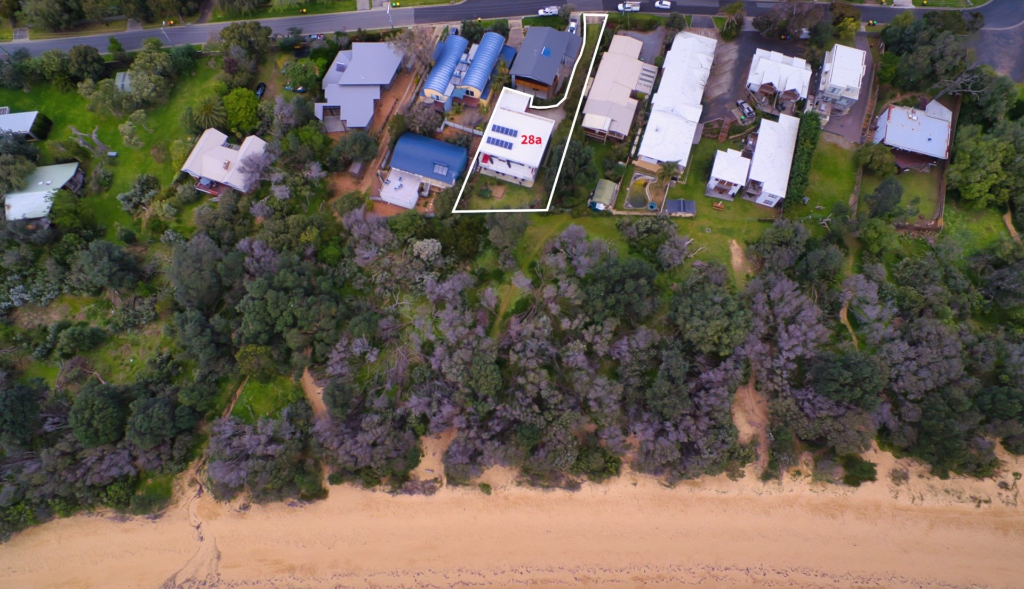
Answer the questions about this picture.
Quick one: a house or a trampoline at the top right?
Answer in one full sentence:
The one visible at the top right is a house.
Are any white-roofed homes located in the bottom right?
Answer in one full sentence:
No, no white-roofed home appears in the bottom right.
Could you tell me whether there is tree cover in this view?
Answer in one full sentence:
Yes, there is tree cover in the image.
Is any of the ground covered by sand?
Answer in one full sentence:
Yes, some sand is visible.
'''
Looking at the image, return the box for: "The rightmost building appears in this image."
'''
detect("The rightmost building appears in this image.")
[874,99,952,174]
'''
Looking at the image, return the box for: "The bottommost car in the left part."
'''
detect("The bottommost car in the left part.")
[253,83,268,99]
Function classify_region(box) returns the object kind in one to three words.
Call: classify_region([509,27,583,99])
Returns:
house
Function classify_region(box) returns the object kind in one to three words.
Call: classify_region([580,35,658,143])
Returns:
house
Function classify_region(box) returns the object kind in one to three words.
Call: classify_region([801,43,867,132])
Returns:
building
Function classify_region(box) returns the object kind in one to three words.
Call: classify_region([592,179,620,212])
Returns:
shed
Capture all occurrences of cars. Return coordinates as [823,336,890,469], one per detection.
[568,16,578,34]
[537,5,559,16]
[735,100,758,117]
[800,28,810,42]
[654,0,672,10]
[253,83,268,99]
[618,1,641,12]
